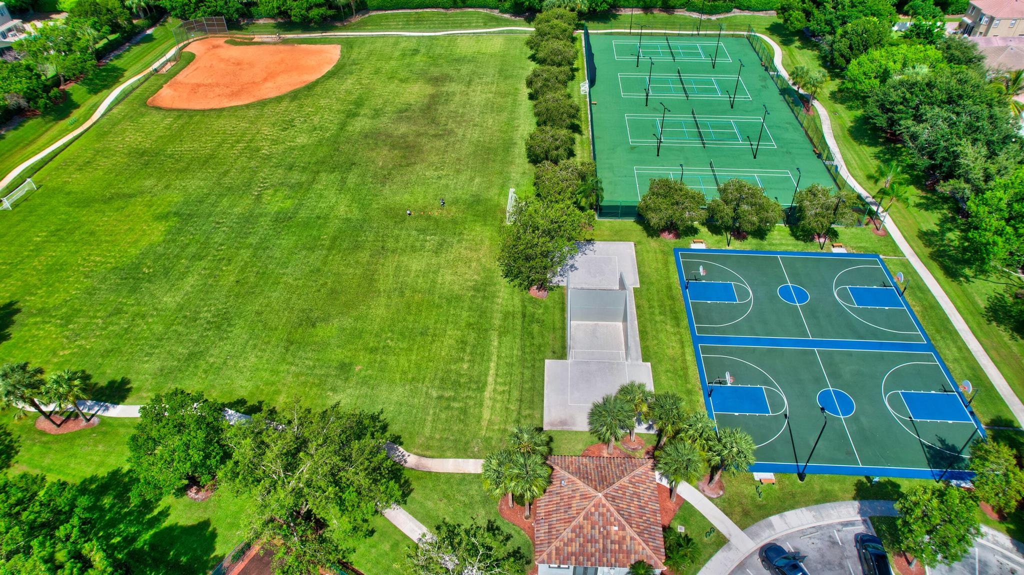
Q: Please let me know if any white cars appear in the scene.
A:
No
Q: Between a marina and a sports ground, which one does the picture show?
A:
sports ground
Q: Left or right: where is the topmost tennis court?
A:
right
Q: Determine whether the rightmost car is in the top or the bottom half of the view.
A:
bottom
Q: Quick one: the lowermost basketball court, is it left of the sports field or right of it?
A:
to the right of it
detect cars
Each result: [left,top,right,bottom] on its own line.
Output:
[765,543,808,575]
[854,531,891,575]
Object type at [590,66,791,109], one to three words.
tennis court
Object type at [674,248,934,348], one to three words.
basketball court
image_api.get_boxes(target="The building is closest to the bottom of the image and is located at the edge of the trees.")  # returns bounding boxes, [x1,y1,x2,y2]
[535,454,668,575]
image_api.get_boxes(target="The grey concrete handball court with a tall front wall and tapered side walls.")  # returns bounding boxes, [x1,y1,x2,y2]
[543,239,655,434]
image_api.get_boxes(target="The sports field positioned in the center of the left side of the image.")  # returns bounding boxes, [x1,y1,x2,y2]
[0,35,543,454]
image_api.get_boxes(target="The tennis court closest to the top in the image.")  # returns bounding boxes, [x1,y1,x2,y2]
[589,35,764,68]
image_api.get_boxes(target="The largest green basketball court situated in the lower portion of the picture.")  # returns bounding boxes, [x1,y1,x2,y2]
[693,339,998,483]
